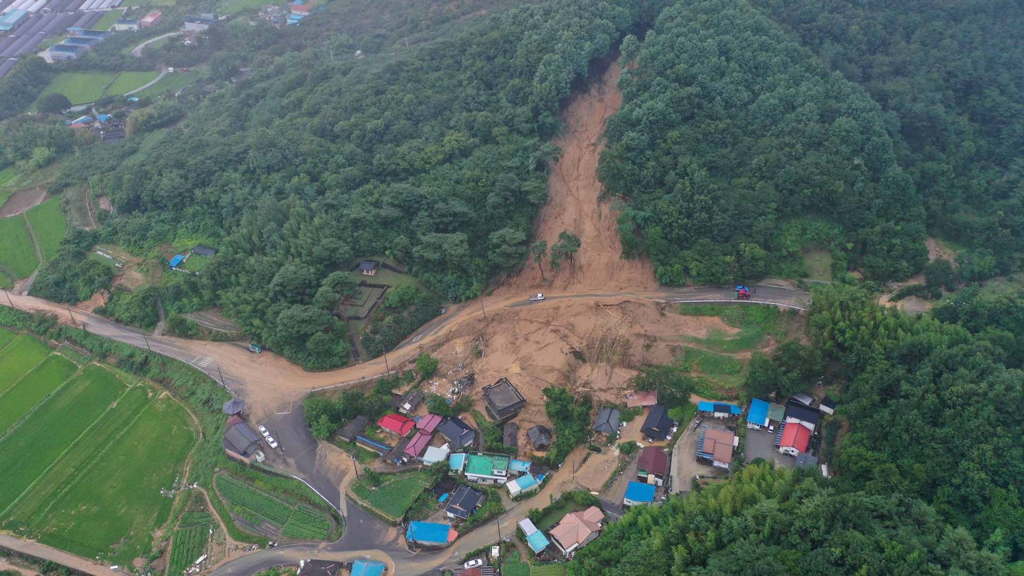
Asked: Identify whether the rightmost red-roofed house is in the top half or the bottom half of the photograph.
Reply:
bottom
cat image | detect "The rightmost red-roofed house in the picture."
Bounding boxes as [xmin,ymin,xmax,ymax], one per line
[772,422,810,458]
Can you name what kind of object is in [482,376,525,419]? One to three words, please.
building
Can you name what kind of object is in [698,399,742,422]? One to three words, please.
shed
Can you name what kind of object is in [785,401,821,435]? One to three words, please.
house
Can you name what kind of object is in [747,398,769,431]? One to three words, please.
house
